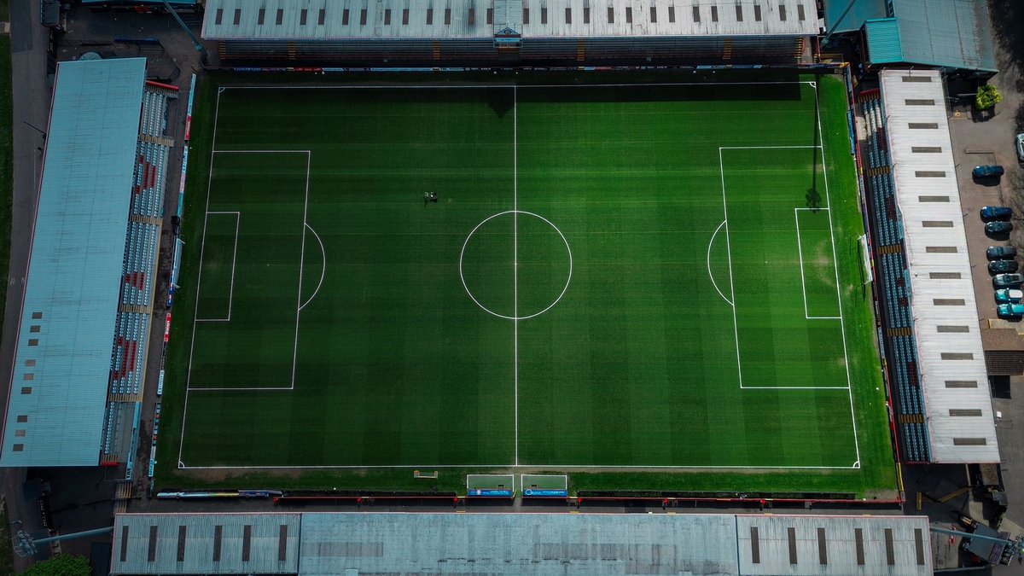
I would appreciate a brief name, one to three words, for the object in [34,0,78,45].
shed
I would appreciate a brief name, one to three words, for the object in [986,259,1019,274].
car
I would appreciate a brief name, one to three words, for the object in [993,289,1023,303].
car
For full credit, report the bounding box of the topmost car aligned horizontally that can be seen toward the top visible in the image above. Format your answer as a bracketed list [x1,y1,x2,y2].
[970,166,1005,181]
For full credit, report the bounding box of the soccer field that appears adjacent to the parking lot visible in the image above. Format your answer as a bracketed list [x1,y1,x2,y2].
[154,66,899,499]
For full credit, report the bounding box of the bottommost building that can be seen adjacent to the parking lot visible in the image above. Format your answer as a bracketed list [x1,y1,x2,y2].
[980,326,1024,376]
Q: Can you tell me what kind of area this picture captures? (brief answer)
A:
sports ground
